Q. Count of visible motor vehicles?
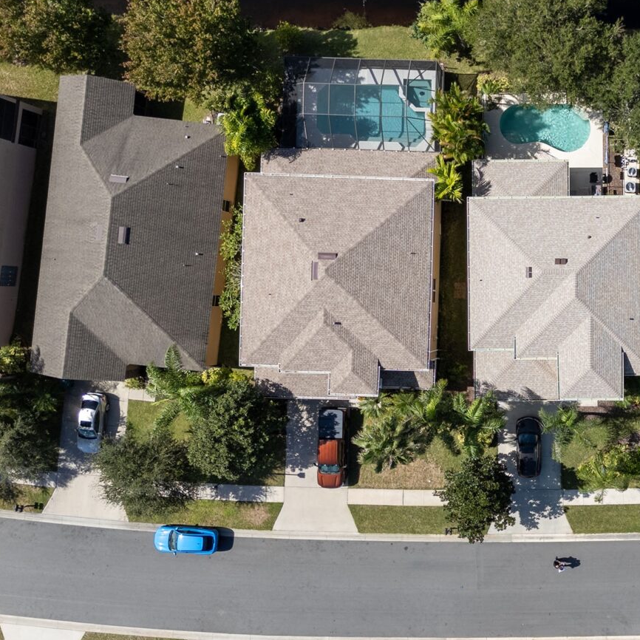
4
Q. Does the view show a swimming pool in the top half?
Yes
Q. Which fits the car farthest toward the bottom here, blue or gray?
blue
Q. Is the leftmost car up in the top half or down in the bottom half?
bottom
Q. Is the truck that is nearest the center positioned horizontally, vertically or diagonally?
vertically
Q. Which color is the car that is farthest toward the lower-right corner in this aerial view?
black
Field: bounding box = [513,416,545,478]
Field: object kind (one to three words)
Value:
car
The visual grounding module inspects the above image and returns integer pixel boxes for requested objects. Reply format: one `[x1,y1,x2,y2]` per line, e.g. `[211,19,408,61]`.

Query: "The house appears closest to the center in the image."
[238,149,441,400]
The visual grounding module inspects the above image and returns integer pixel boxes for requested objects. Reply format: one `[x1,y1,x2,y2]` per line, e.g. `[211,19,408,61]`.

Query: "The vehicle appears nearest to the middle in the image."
[314,407,350,485]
